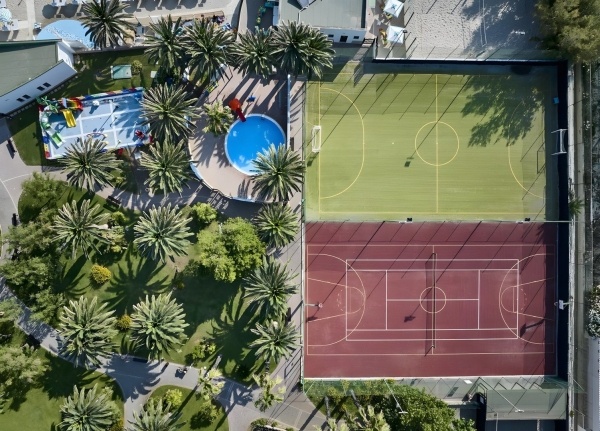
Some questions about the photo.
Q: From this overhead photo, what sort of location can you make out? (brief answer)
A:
sports ground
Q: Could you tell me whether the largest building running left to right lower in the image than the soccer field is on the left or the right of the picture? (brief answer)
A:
right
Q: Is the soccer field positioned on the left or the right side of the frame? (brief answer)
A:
right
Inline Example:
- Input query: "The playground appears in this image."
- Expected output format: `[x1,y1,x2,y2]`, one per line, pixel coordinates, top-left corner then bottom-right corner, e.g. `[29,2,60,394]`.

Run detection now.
[36,84,153,163]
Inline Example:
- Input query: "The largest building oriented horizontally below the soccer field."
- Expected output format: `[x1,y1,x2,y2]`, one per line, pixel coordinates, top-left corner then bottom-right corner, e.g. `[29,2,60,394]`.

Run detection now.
[478,388,560,419]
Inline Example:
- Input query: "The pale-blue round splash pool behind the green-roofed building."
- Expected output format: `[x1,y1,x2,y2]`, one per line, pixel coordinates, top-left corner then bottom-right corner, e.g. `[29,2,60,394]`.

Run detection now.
[36,16,96,50]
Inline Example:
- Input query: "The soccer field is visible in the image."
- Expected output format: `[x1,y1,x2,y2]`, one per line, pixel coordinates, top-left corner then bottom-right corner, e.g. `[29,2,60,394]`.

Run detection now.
[305,63,557,221]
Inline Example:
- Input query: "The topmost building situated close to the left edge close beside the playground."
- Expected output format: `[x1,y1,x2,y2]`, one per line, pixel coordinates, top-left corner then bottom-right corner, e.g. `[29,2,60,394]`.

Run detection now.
[0,37,87,116]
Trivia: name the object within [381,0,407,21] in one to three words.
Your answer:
umbrella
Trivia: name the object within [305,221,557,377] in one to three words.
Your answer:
tennis court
